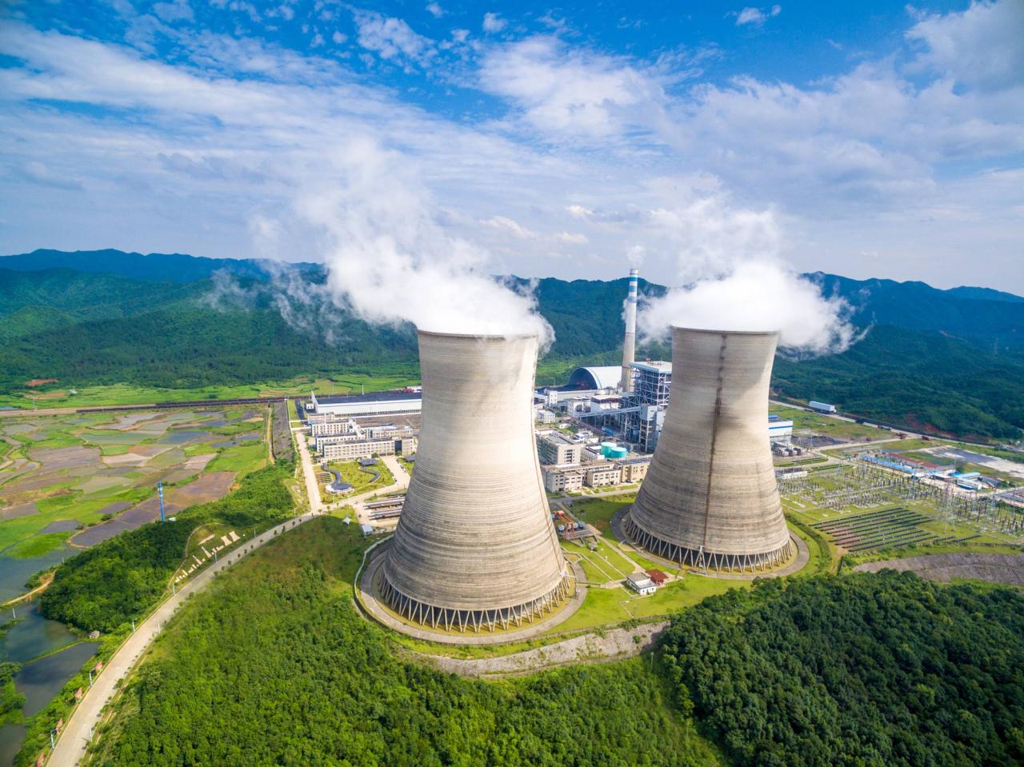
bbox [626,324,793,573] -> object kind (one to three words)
cooling tower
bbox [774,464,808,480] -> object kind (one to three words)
shed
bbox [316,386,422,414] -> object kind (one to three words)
building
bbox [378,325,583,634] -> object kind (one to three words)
cooling tower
